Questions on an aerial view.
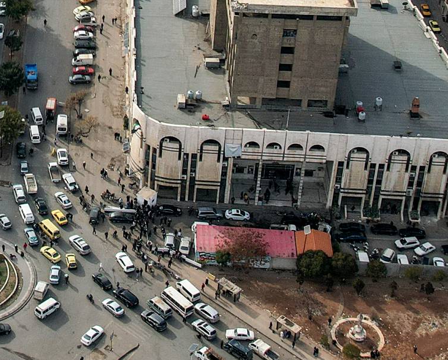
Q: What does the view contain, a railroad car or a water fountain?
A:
water fountain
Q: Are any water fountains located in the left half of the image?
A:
No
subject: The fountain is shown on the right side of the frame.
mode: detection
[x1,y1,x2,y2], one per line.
[329,314,386,352]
